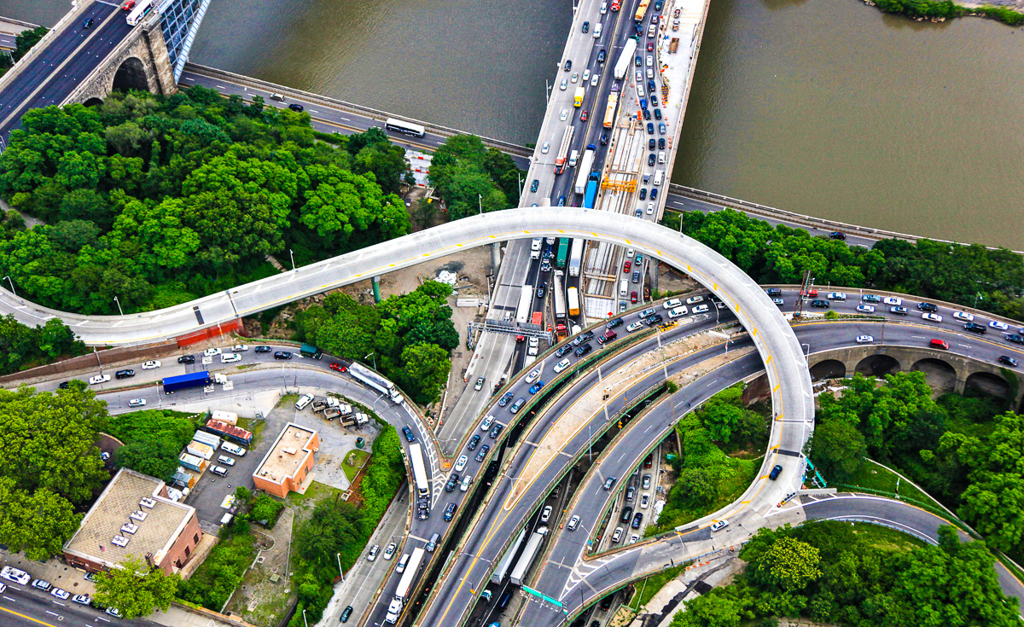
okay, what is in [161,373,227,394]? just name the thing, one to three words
truck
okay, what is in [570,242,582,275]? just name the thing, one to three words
vehicle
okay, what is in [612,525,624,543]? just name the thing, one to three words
vehicle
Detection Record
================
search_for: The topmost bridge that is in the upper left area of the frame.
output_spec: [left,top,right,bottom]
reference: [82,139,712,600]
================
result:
[0,0,228,201]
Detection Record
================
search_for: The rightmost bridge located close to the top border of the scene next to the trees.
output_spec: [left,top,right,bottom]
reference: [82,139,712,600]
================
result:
[516,0,716,226]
